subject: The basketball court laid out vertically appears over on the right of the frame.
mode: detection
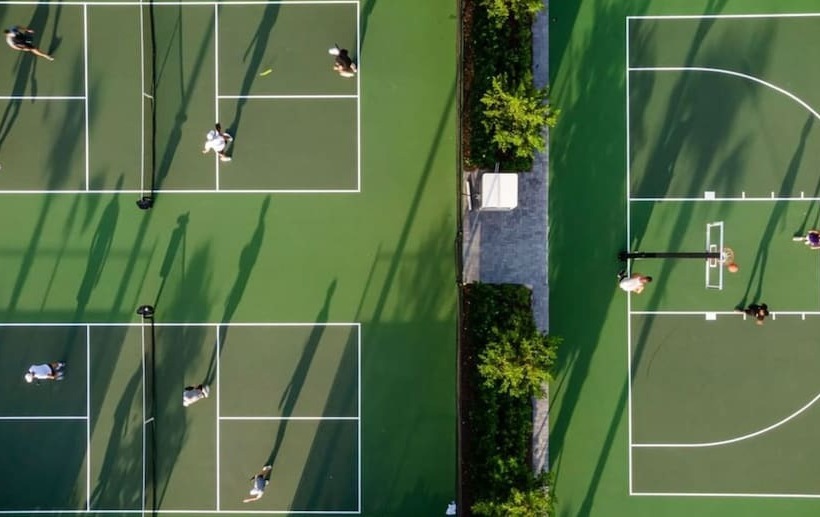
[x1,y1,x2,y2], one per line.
[627,12,820,498]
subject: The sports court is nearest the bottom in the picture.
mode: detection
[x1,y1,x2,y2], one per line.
[0,323,361,513]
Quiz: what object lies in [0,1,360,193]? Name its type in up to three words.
sports court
